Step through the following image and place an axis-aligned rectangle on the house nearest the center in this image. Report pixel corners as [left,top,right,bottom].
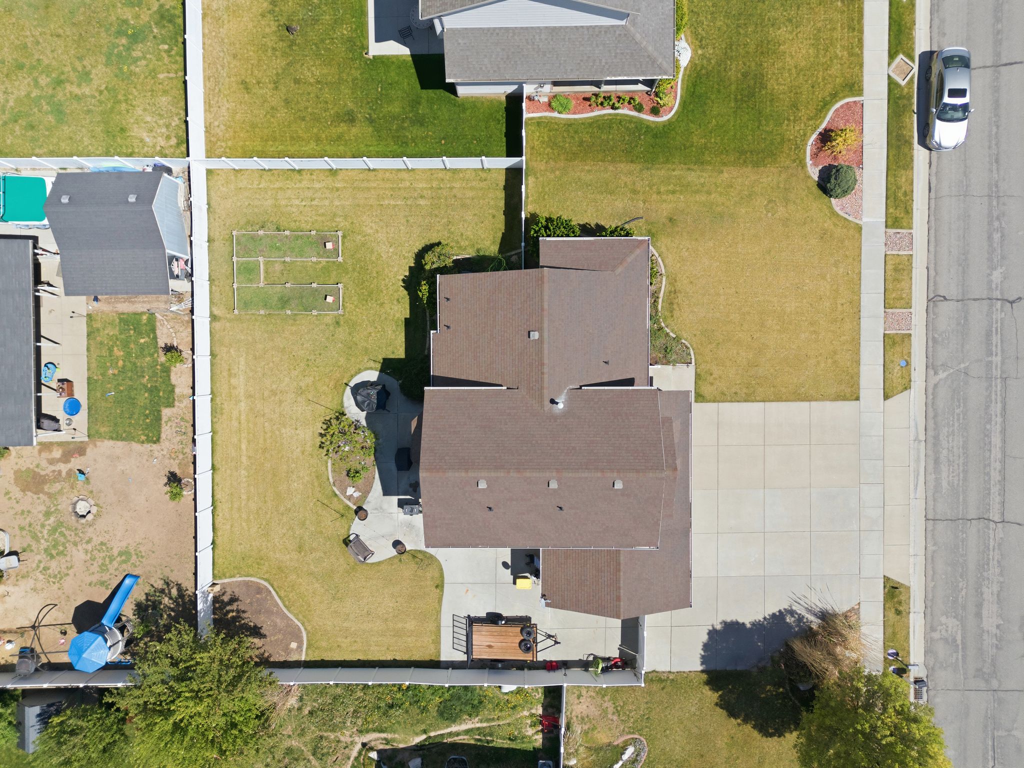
[413,235,695,620]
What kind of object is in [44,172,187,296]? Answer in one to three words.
shed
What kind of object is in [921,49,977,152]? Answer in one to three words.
car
